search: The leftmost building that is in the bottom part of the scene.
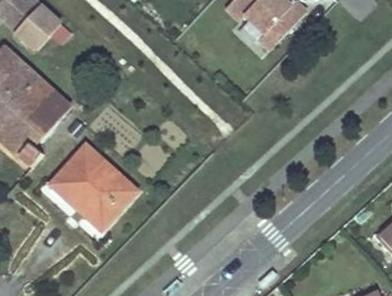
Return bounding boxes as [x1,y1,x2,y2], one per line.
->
[48,138,142,240]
